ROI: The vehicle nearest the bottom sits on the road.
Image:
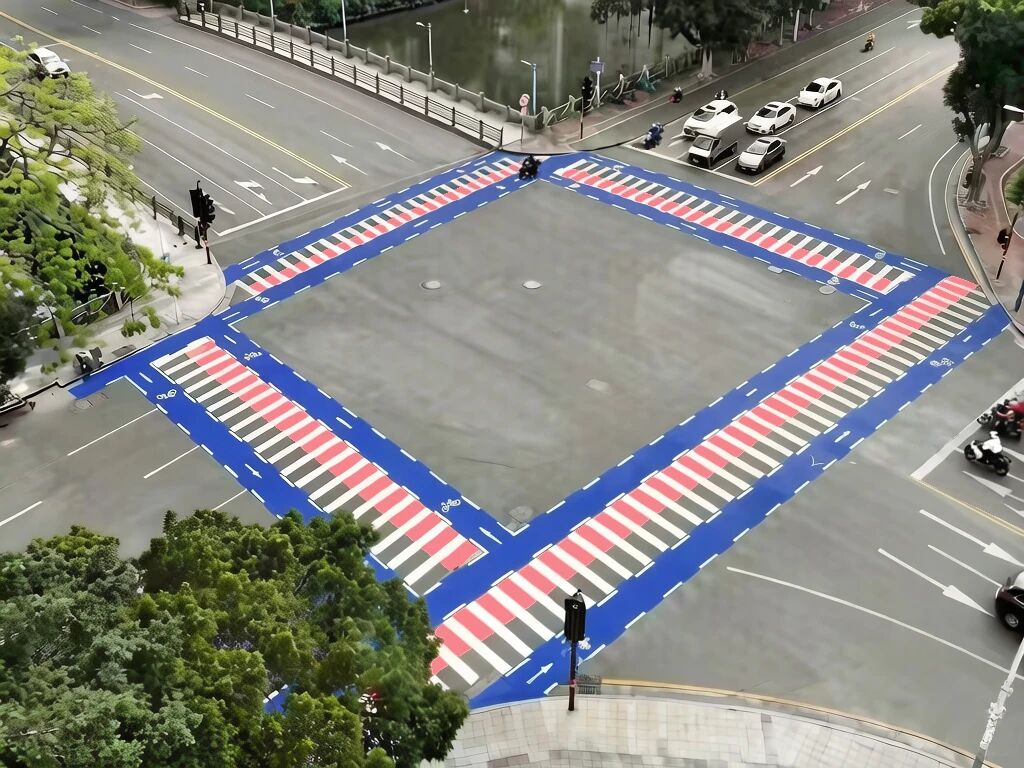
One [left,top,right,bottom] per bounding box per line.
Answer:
[992,579,1024,626]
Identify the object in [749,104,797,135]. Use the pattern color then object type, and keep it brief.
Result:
white car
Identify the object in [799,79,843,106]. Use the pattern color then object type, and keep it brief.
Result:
white car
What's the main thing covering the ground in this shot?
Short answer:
paved ground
